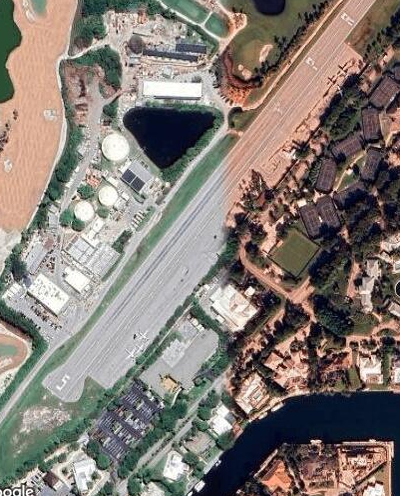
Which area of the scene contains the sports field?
right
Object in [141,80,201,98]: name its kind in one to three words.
building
